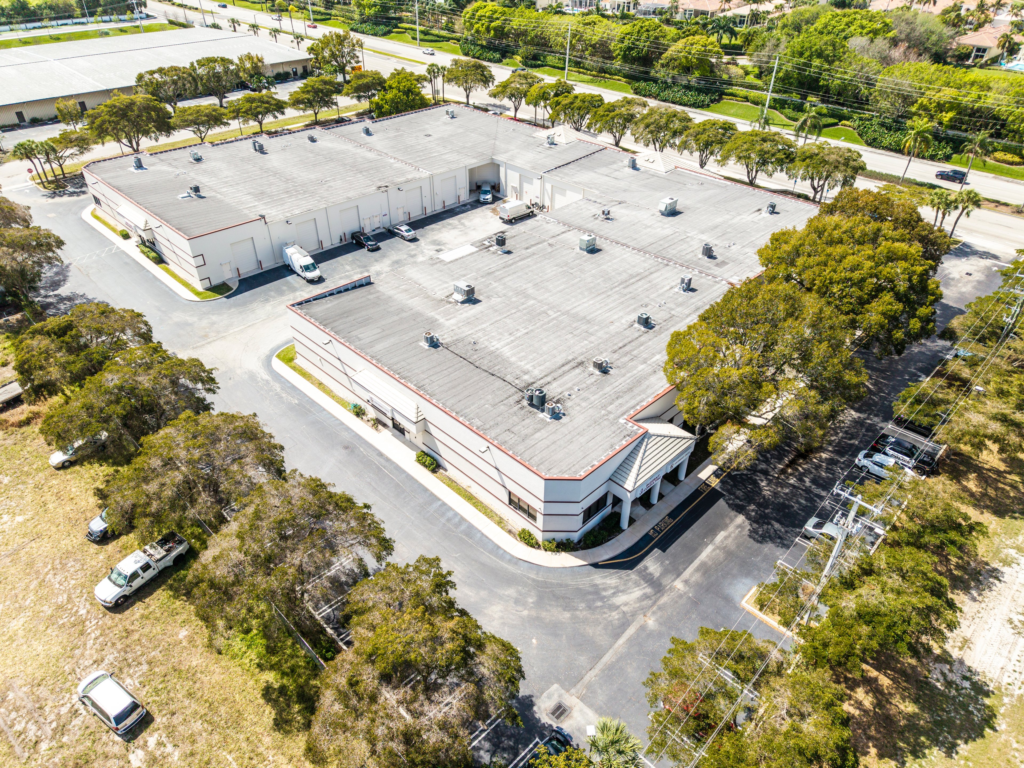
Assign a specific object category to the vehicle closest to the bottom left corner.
automobile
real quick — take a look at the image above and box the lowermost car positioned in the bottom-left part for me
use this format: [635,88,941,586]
[76,669,154,736]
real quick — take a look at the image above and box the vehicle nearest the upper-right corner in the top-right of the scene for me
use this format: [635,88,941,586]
[933,168,971,183]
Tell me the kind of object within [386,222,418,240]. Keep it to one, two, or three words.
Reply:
car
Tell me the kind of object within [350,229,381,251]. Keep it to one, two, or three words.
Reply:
car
